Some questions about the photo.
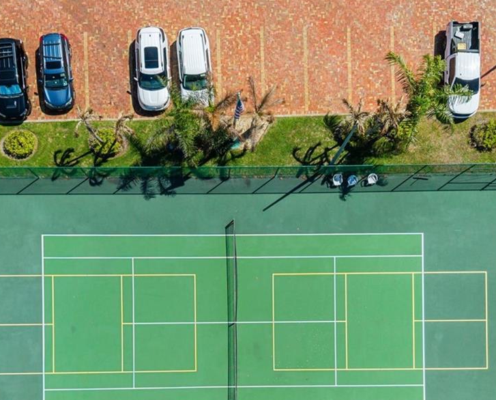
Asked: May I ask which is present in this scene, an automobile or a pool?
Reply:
automobile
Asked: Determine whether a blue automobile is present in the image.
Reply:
Yes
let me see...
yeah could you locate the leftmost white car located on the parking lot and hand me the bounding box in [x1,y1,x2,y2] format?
[133,29,173,112]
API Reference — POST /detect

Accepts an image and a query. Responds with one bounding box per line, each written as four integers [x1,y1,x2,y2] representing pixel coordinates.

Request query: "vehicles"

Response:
[176,30,215,112]
[36,34,75,110]
[443,22,484,118]
[0,41,30,119]
[133,29,173,112]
